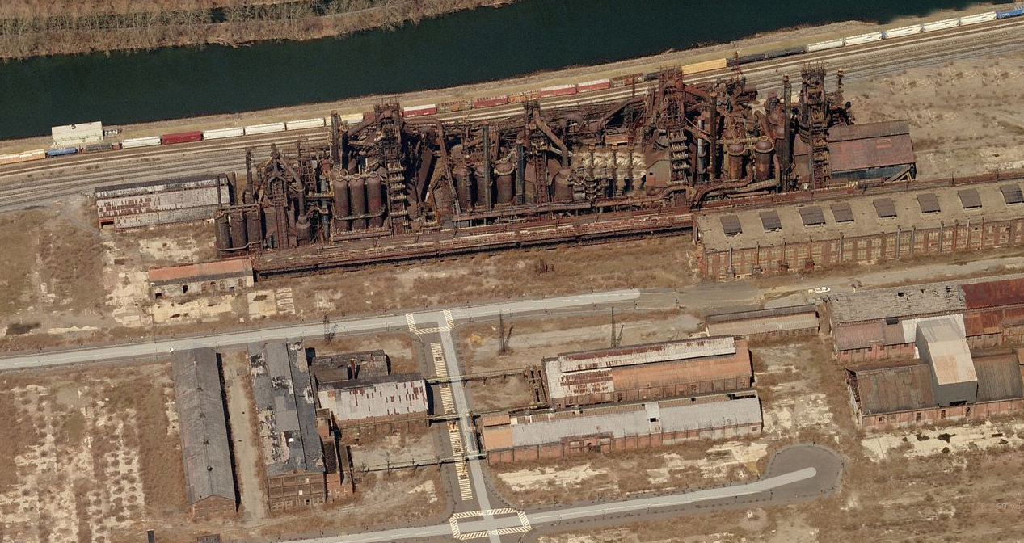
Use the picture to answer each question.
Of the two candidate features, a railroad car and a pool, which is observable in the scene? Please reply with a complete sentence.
The image shows a railroad car.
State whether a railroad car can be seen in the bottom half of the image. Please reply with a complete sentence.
No, I can find no railroad car in the bottom half of the image.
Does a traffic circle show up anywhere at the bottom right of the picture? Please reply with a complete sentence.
Yes, looking at the bottom right of the picture, one can make out a traffic circle.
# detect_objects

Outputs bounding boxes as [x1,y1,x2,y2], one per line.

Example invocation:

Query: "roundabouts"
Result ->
[762,437,852,504]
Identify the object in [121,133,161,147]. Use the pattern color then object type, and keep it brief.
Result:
white rail car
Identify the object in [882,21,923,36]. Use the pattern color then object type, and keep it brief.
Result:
white rail car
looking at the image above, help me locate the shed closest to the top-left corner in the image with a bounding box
[50,115,103,147]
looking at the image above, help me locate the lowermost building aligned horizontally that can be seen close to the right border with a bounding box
[849,350,1024,429]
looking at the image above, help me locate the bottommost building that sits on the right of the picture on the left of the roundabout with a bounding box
[481,387,764,464]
